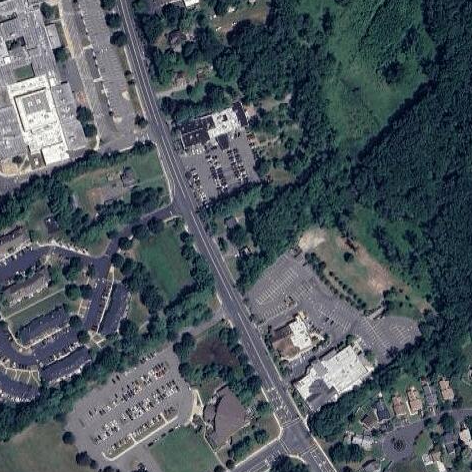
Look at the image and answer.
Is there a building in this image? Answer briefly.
Yes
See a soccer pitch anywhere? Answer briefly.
No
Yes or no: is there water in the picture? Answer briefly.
No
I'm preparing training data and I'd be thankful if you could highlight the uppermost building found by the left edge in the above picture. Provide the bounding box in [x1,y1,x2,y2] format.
[0,0,88,164]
